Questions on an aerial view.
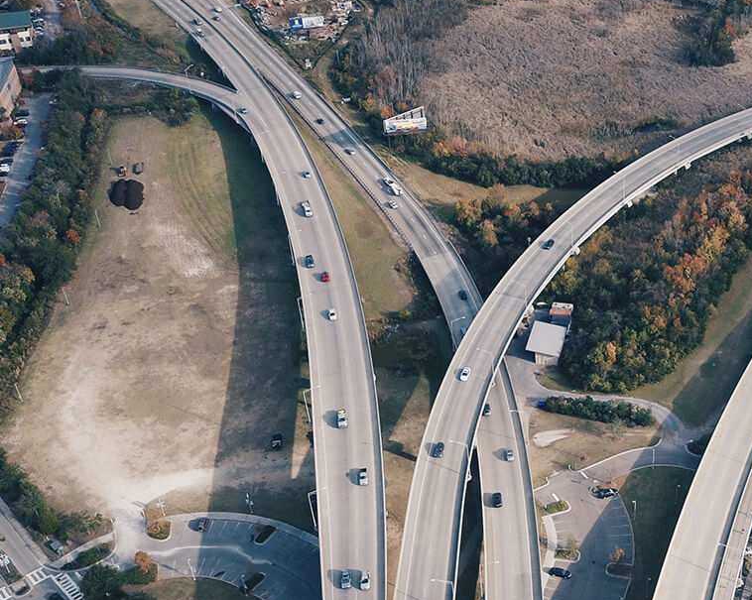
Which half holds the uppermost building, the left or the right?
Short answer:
left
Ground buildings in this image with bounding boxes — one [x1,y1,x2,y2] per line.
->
[527,322,566,369]
[0,64,22,133]
[0,7,40,49]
